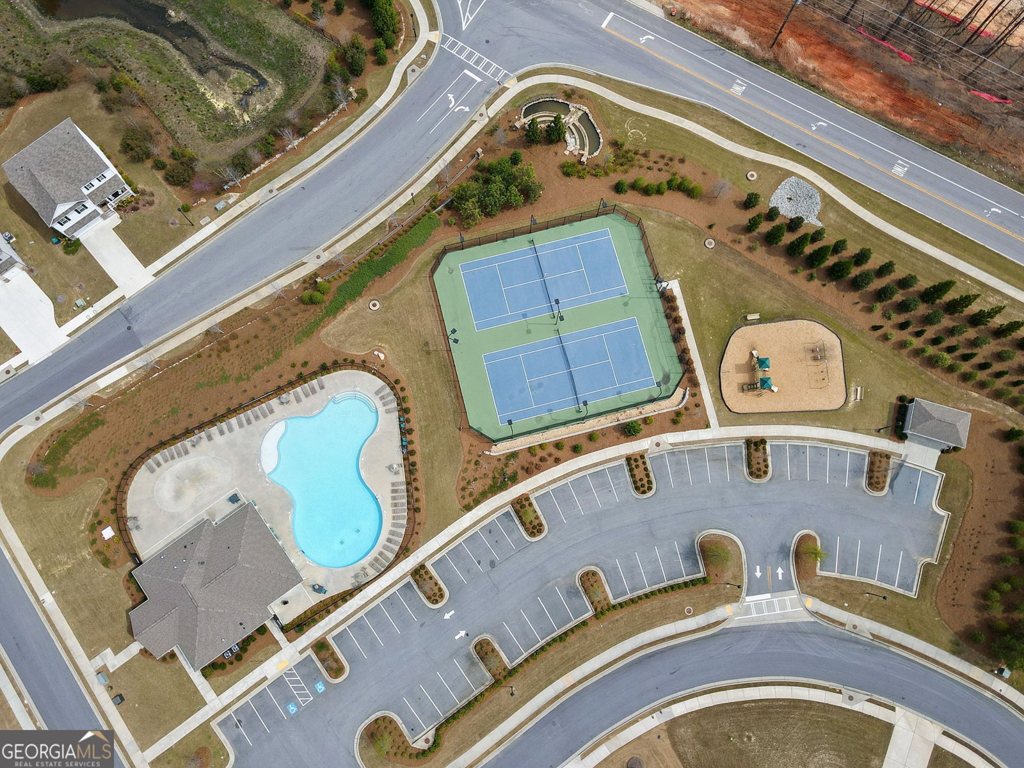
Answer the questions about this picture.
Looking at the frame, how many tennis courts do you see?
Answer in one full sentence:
The count of tennis courts comes to 2.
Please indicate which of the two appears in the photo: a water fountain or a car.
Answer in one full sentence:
The one in the frame is a water fountain.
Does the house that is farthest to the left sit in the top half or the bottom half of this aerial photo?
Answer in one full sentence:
It is in the top half that the house that is farthest to the left appears.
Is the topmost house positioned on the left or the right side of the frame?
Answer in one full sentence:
You can find the topmost house on the left side of the picture.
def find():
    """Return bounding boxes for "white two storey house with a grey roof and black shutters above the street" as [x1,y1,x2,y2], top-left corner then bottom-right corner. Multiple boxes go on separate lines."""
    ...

[3,117,137,242]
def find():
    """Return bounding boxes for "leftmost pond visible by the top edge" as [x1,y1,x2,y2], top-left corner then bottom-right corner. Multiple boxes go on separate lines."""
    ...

[35,0,266,83]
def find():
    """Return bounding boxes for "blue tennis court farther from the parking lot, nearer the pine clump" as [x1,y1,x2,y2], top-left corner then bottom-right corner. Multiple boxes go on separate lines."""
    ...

[459,227,629,331]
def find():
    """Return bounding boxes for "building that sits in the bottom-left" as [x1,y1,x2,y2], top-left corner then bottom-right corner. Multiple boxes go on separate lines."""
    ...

[129,501,304,672]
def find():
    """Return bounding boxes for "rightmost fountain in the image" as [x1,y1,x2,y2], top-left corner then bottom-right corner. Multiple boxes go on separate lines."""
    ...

[520,96,604,158]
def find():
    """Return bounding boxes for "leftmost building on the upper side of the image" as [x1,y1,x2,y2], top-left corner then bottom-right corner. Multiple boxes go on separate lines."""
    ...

[0,232,28,285]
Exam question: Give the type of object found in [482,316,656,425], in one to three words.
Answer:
tennis court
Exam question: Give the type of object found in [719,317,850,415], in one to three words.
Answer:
playground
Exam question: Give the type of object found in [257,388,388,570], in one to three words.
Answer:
swimming pool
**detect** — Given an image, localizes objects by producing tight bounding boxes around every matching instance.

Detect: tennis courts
[459,227,629,331]
[482,316,656,425]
